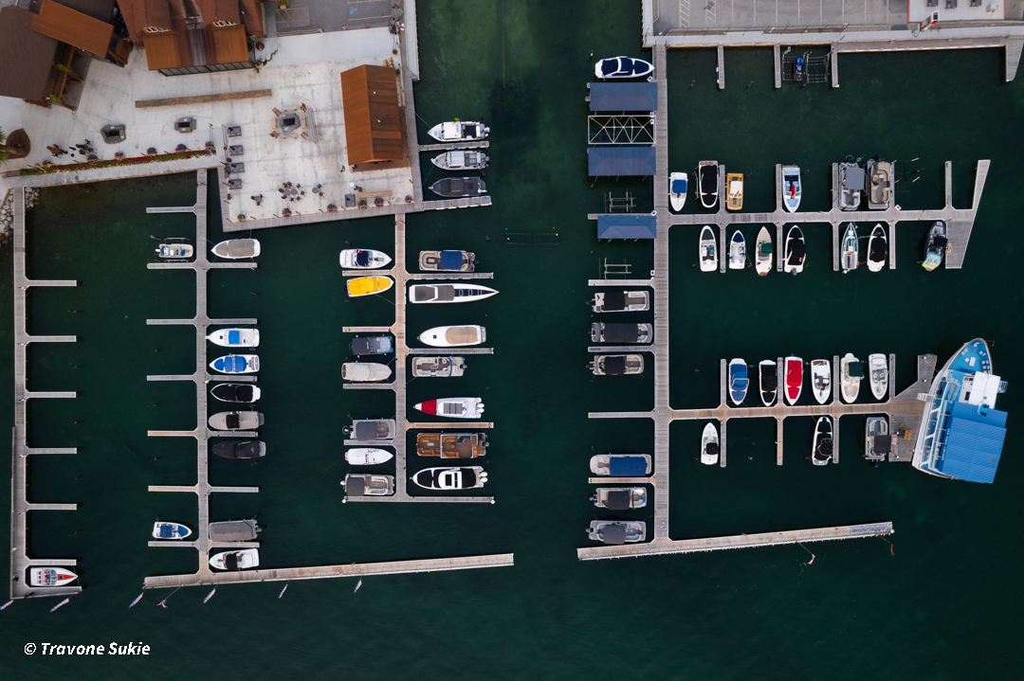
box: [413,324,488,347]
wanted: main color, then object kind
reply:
white boat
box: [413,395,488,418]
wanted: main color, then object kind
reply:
white boat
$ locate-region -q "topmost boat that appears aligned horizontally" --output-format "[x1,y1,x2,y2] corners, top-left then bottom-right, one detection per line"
[593,55,655,79]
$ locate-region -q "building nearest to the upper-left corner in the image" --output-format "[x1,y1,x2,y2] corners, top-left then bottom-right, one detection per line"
[0,0,136,119]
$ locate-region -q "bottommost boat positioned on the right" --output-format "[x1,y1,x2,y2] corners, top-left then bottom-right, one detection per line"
[584,515,653,548]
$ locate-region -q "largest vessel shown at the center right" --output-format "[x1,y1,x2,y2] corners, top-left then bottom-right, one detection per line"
[915,338,1008,483]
